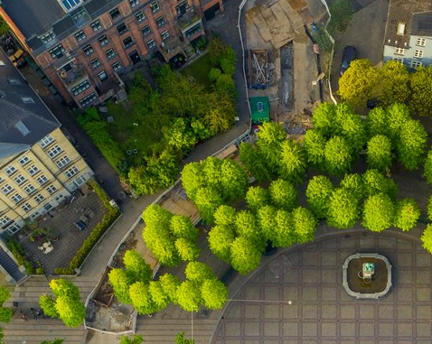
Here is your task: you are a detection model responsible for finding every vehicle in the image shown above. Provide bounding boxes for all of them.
[358,96,386,112]
[338,44,355,74]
